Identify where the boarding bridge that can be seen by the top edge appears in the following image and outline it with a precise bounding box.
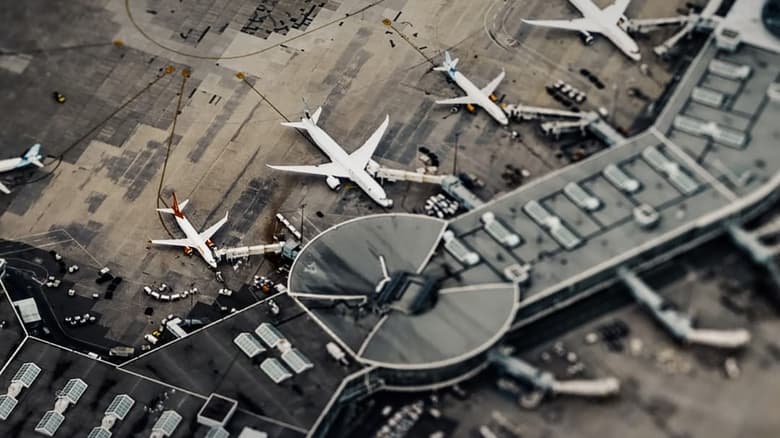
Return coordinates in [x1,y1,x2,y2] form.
[622,14,719,60]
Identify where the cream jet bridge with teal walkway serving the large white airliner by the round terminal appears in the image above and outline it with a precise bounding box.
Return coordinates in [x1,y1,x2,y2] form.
[374,169,486,209]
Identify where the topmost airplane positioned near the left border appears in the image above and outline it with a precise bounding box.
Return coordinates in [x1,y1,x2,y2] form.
[0,143,48,192]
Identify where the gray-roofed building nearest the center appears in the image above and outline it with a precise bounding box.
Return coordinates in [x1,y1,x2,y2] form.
[286,210,519,393]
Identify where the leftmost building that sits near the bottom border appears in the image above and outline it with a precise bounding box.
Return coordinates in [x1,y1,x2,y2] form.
[0,275,385,438]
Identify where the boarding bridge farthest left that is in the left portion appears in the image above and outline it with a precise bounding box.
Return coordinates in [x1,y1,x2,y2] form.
[213,243,300,269]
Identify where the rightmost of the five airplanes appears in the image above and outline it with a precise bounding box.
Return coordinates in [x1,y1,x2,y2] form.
[522,0,642,59]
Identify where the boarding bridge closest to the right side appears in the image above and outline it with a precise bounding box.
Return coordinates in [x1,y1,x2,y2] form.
[723,226,780,271]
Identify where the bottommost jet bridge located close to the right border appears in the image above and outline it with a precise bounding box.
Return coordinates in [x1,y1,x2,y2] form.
[617,273,752,355]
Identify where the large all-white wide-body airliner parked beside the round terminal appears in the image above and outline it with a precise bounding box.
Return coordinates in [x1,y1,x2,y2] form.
[269,107,393,207]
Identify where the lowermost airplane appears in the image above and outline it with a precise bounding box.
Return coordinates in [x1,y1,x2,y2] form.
[150,199,228,267]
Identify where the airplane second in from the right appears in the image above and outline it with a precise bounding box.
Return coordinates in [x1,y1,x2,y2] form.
[434,55,508,125]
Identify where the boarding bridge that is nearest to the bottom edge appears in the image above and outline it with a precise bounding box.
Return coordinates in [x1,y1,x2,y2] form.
[485,350,622,404]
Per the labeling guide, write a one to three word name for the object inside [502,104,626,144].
jet bridge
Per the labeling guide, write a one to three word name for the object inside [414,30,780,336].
building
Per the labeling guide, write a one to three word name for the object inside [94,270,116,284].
vehicle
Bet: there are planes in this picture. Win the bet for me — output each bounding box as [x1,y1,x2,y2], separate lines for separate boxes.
[522,0,642,59]
[434,55,508,125]
[269,107,393,207]
[0,143,48,192]
[150,199,228,267]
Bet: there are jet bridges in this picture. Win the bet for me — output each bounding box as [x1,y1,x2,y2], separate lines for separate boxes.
[622,14,719,60]
[502,104,626,144]
[213,243,300,269]
[485,350,622,404]
[617,273,752,355]
[374,169,486,209]
[723,226,780,271]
